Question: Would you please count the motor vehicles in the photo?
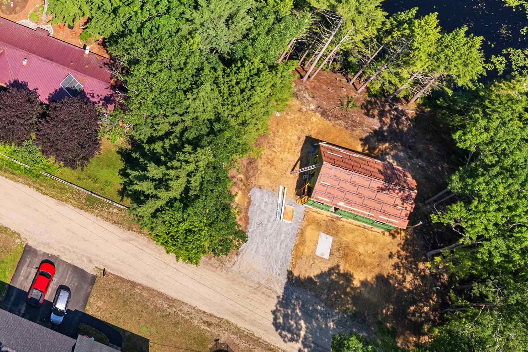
two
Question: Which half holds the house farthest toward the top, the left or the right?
left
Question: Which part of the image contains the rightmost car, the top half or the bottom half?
bottom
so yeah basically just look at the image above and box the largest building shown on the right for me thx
[299,143,420,233]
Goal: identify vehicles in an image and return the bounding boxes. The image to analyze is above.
[28,257,53,309]
[51,282,72,327]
